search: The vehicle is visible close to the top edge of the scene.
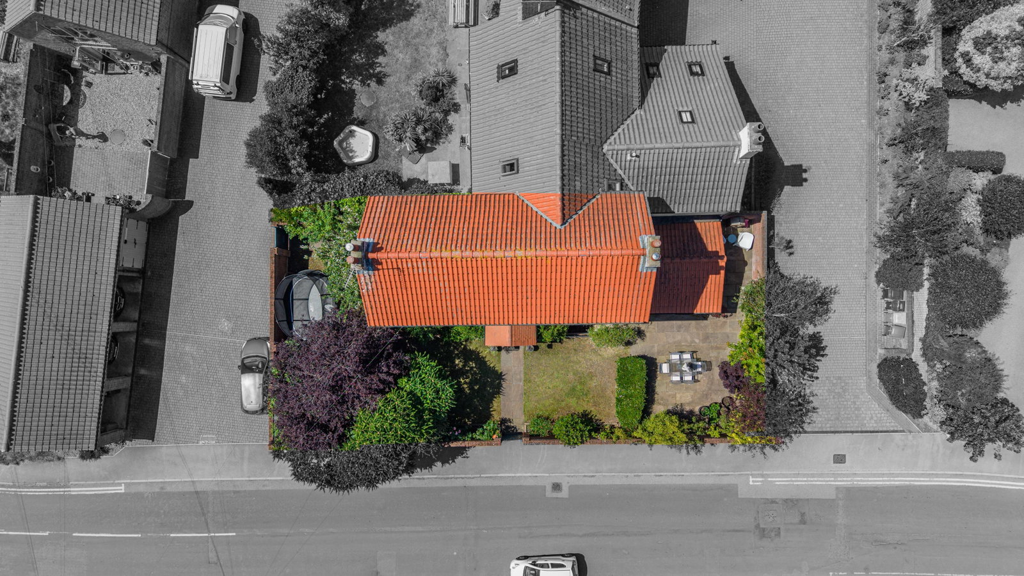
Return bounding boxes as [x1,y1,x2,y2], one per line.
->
[189,7,241,99]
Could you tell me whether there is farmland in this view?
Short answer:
No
